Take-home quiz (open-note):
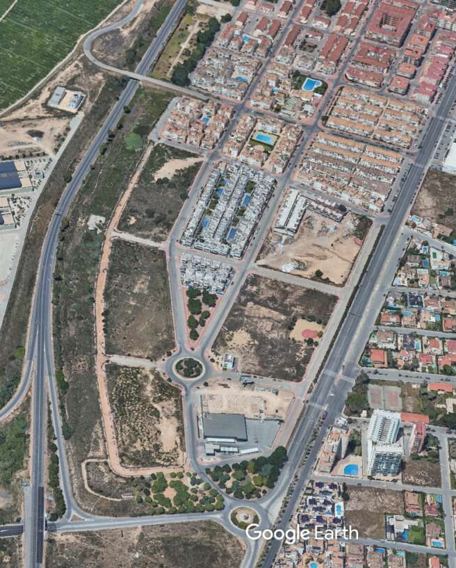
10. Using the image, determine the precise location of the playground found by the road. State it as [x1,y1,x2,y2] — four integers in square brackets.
[289,318,324,341]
